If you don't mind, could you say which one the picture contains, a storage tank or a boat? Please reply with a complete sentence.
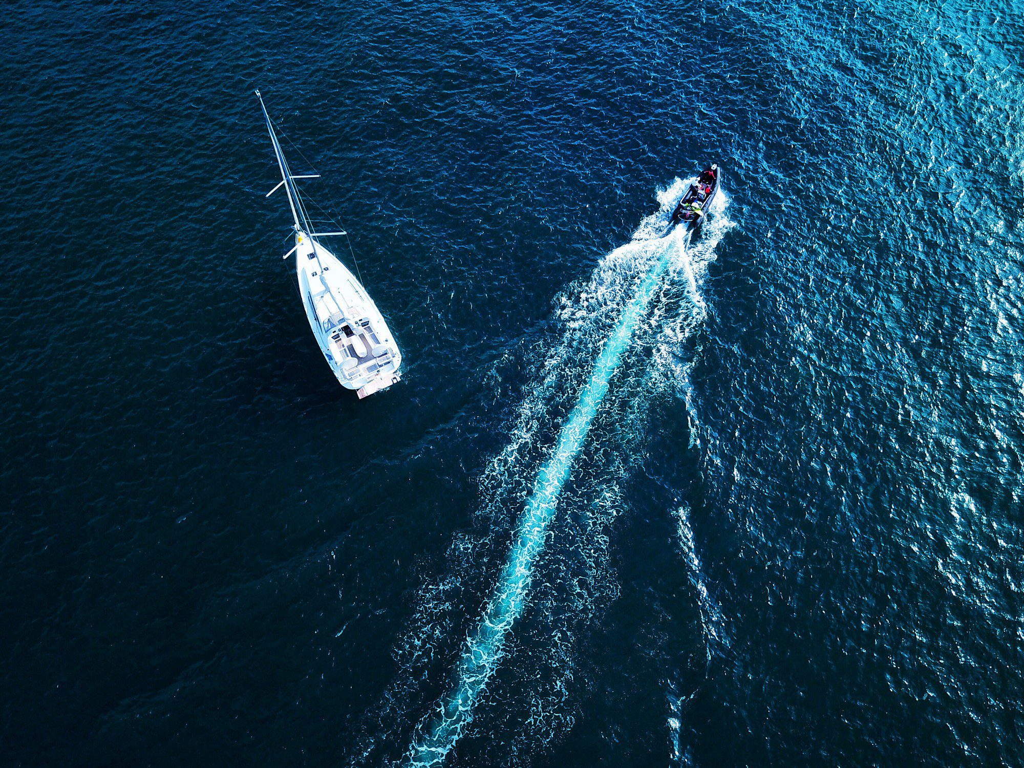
Of the two, only a boat appears.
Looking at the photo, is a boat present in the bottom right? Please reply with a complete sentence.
No, no boat is visible in the bottom right.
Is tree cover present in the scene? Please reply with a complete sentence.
No, tree cover can't be seen anywhere here.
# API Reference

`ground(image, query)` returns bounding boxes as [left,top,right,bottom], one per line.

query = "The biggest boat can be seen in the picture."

[252,88,401,399]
